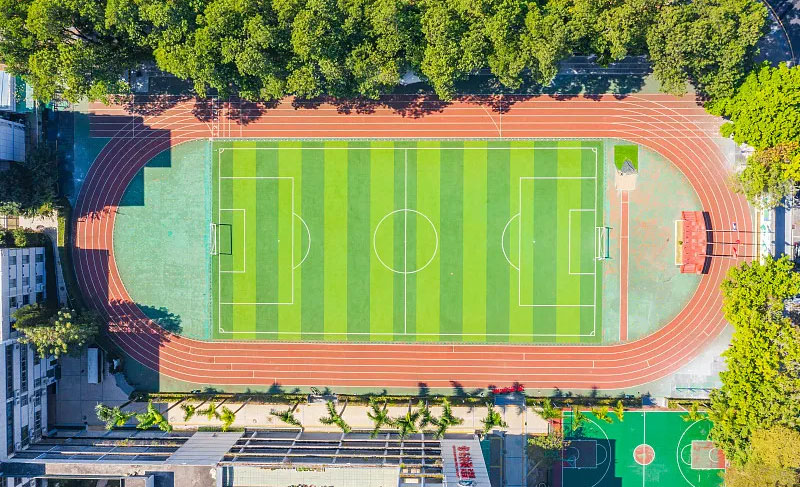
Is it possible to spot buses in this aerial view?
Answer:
No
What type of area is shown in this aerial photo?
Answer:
sports ground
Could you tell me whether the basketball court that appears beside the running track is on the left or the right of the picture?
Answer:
right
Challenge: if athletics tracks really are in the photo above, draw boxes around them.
[73,93,750,389]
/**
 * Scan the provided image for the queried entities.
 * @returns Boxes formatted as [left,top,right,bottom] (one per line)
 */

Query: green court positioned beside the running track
[550,406,733,487]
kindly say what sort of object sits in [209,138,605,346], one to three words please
soccer field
